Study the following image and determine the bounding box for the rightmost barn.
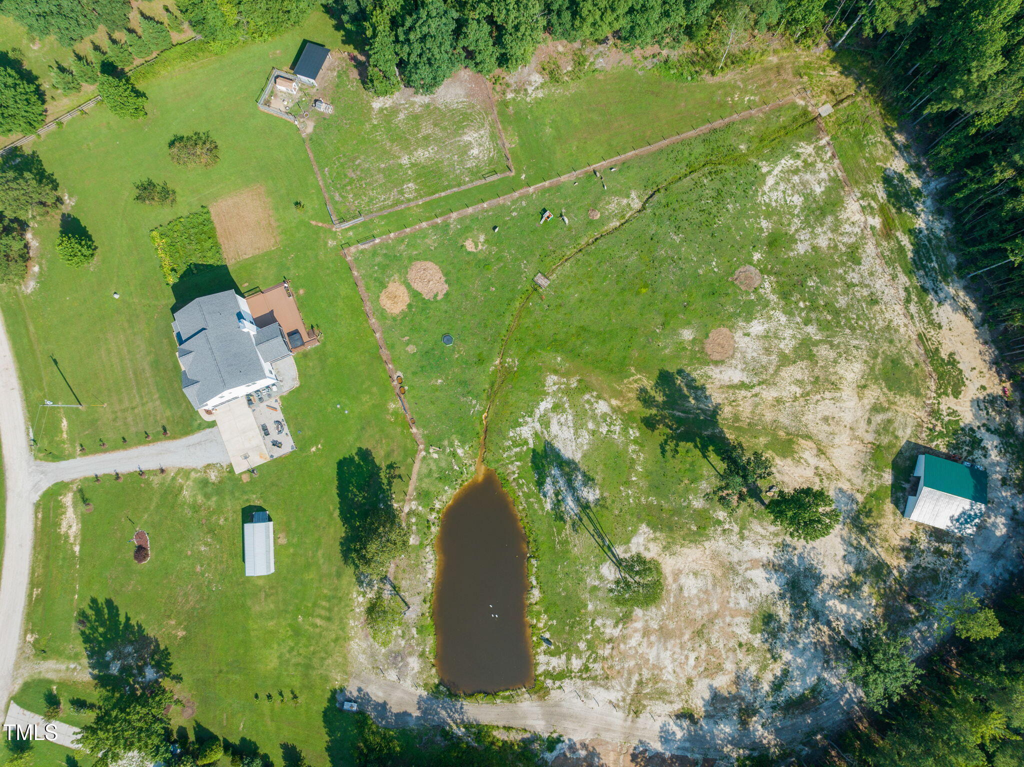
[902,454,989,538]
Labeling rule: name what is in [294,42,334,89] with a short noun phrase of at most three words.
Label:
shed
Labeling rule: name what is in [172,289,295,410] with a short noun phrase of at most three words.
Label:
house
